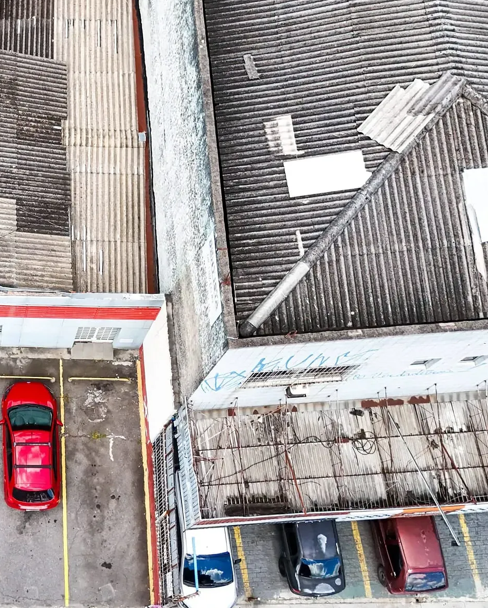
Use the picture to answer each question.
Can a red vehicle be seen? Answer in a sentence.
Yes, a red vehicle can be made out from above.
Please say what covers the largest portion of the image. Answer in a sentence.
The scene is dominated by buildings.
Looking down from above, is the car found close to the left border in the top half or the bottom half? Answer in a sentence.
Seen from above, the car found close to the left border lies in the bottom half of the view.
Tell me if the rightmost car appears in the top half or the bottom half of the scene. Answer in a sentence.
Seen from above, the rightmost car lies in the bottom half of the view.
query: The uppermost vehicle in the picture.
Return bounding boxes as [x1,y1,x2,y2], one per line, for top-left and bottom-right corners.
[0,382,63,513]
